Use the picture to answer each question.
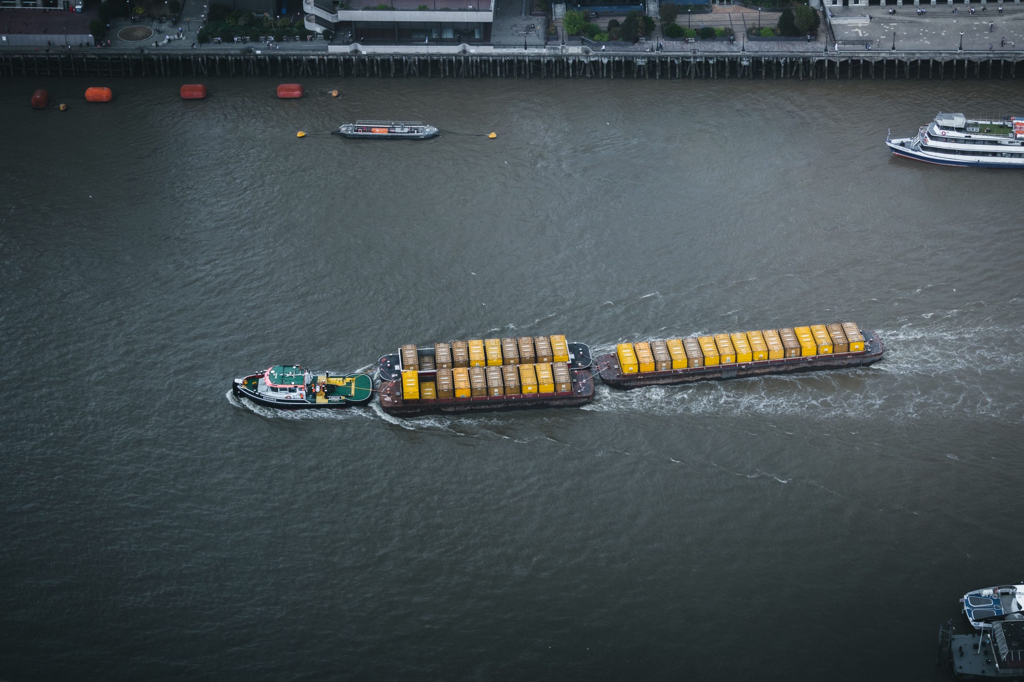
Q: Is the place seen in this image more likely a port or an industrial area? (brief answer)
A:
port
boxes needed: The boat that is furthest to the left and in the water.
[229,365,374,410]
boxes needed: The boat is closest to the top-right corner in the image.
[886,109,1024,170]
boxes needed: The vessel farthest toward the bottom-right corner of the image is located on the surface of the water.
[957,577,1024,632]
